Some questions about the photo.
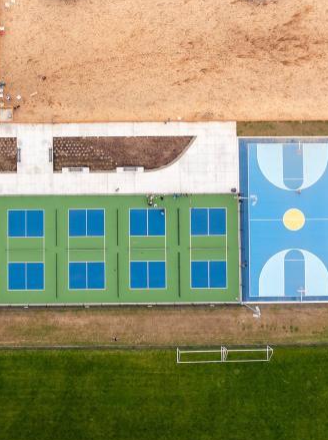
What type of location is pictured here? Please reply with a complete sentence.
The picture captures a sports ground.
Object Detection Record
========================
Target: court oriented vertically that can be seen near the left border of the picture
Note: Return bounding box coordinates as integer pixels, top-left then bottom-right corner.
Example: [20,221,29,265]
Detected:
[8,209,45,290]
